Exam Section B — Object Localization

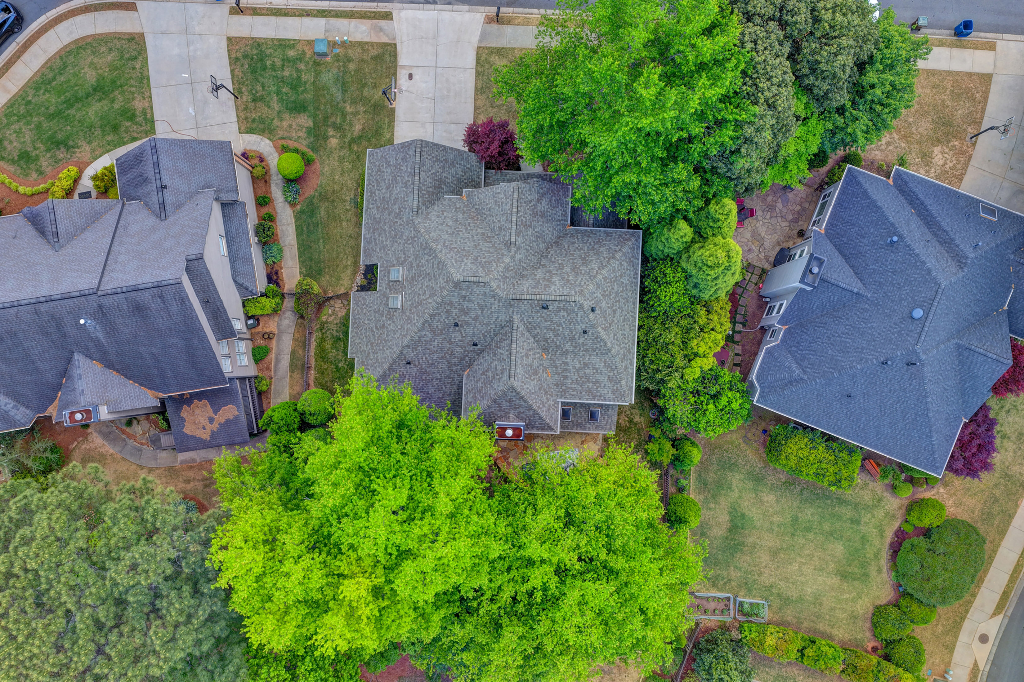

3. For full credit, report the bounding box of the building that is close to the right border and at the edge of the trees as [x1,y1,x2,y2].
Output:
[742,163,1024,479]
